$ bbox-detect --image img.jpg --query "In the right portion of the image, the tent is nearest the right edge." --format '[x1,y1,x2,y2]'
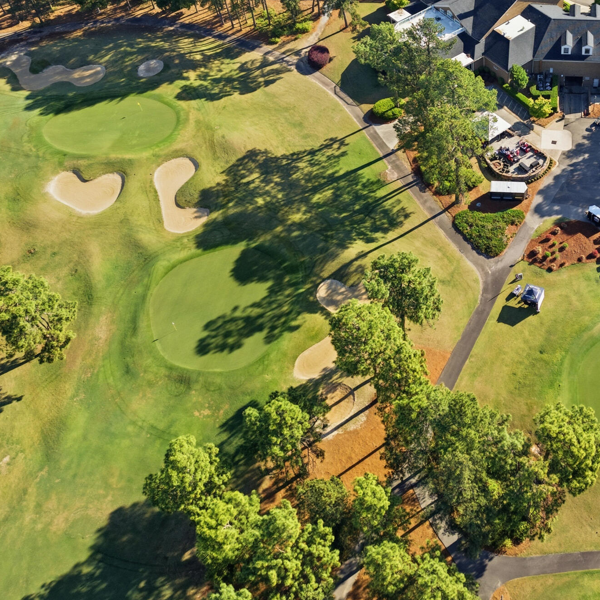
[520,284,544,312]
